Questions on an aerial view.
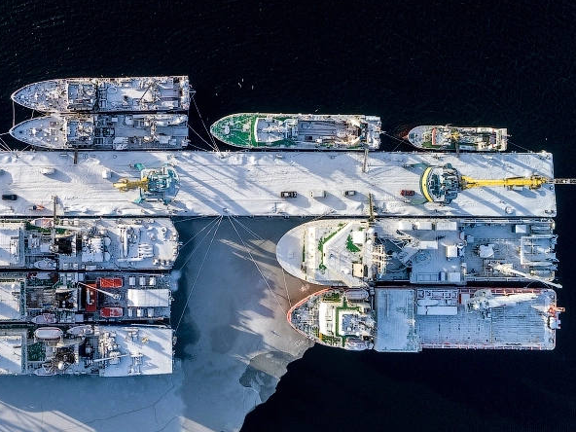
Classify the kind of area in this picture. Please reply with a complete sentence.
What you see here is a port.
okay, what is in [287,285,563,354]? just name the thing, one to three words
ship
